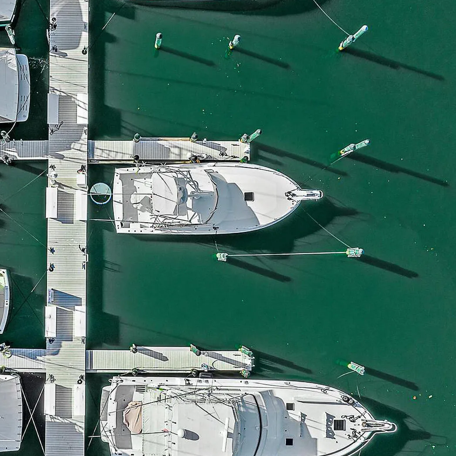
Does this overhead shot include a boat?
Yes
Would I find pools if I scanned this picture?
No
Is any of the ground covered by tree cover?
No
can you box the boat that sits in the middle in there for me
[95,162,323,235]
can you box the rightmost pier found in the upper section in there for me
[87,136,250,164]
